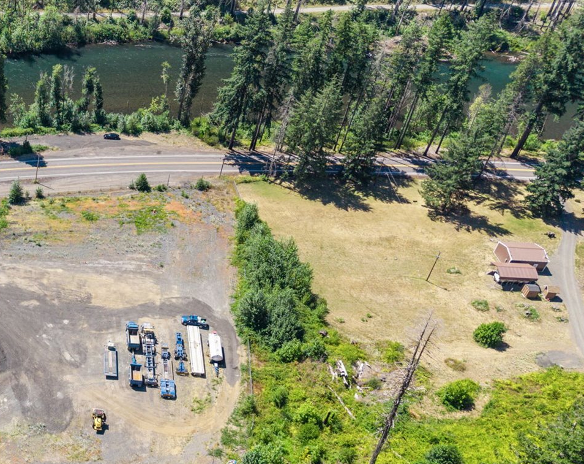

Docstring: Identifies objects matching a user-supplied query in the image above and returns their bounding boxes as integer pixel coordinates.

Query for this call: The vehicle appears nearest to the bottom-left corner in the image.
[91,409,106,432]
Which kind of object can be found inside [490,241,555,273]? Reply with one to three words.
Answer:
barn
